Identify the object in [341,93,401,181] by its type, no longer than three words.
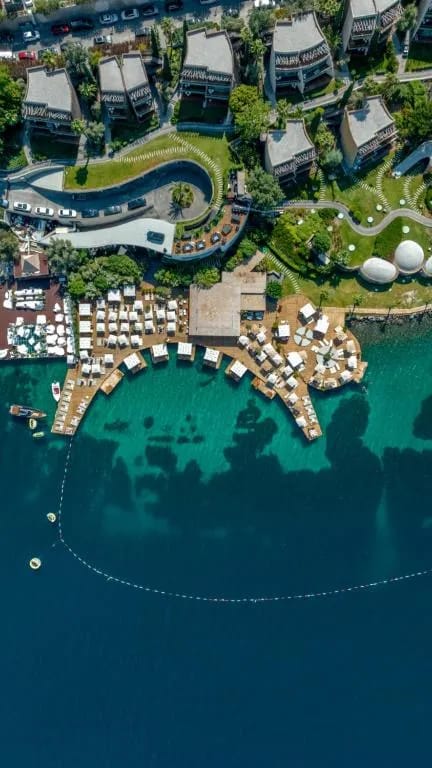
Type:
building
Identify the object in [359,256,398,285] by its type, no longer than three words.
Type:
tent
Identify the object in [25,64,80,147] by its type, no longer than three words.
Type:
building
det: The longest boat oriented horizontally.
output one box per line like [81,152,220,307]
[9,406,49,418]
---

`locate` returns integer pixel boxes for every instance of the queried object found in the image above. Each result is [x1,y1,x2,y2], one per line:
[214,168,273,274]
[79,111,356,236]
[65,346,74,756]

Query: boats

[52,380,62,401]
[46,513,56,521]
[29,418,37,429]
[33,431,45,437]
[30,558,40,568]
[9,406,49,418]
